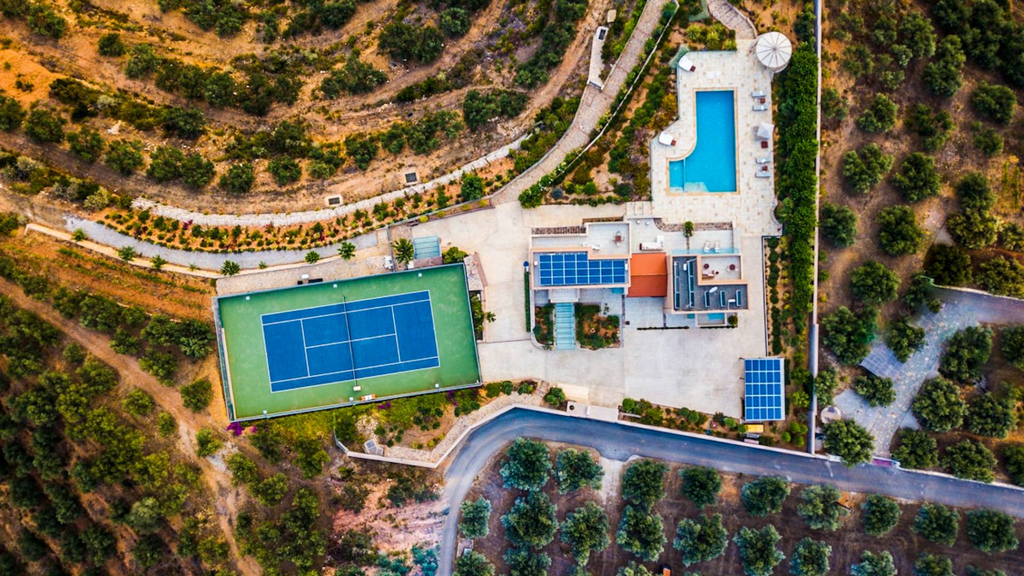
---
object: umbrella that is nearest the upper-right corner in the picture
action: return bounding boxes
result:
[761,120,778,137]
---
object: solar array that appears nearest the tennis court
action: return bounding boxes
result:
[540,253,625,286]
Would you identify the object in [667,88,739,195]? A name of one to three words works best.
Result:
swimming pool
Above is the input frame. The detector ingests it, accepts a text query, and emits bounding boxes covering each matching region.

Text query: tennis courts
[212,263,482,422]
